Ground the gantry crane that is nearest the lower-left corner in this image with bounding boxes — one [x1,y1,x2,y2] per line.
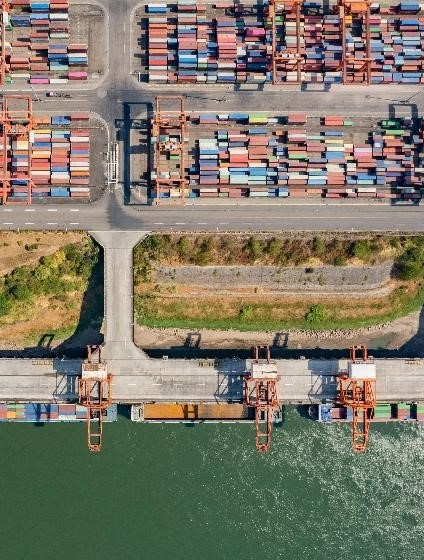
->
[72,344,112,453]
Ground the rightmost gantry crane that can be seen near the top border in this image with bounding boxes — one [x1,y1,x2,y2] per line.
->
[328,0,372,87]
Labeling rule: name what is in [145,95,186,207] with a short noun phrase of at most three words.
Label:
container crane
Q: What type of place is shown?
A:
port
